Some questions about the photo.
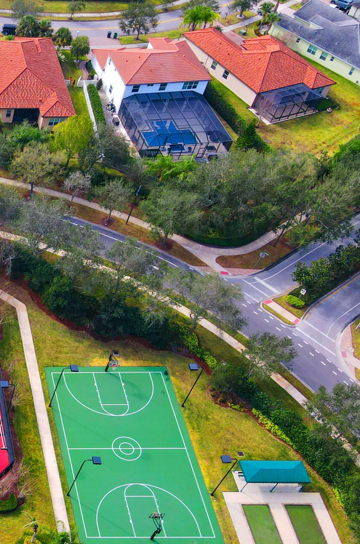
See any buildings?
Yes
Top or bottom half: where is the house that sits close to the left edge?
top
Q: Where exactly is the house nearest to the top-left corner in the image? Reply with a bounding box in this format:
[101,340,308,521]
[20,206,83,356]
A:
[0,36,76,130]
